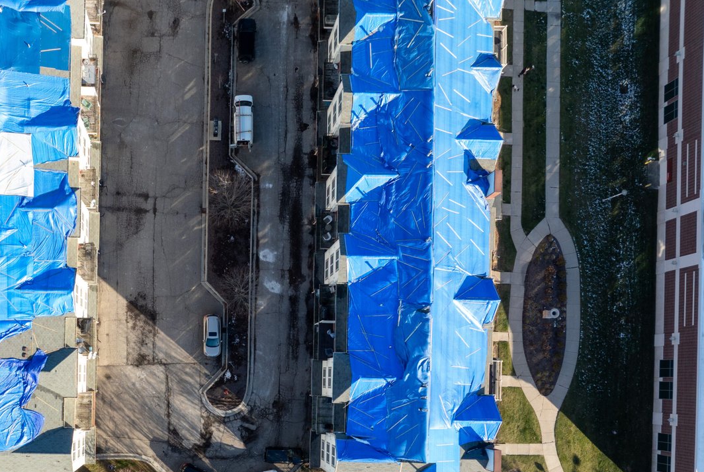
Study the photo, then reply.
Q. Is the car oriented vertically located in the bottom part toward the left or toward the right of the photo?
left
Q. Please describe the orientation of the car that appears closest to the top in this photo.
vertically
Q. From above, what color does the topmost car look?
black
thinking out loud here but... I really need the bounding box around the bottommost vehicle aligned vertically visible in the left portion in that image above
[202,313,223,356]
